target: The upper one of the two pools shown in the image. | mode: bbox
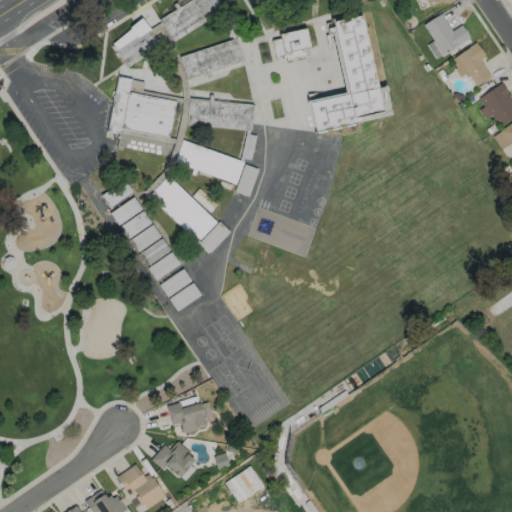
[454,80,473,94]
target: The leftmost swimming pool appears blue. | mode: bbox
[192,442,210,464]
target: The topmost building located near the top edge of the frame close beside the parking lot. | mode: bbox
[160,0,217,40]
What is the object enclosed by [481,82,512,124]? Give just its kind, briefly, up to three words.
house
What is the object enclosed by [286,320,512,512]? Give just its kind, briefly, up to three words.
baseball field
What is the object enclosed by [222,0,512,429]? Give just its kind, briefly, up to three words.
sports field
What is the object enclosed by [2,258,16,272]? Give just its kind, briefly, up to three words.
gazebo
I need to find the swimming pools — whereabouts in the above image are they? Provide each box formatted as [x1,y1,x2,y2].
[454,80,473,94]
[192,442,210,464]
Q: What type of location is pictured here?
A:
sports ground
